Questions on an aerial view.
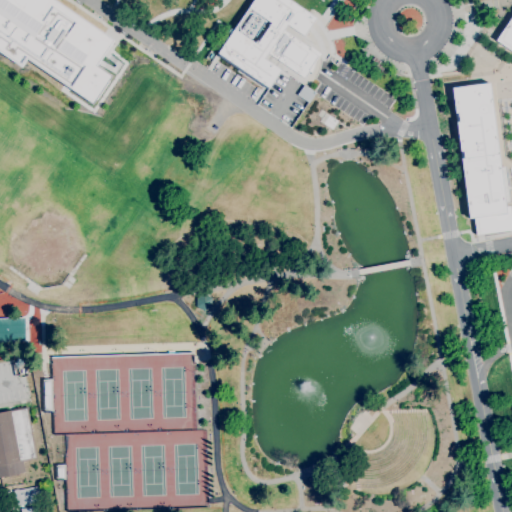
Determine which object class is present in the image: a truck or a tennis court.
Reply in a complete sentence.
Visible in the photo is a tennis court.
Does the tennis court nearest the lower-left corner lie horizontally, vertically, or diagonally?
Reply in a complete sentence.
The tennis court nearest the lower-left corner has been laid out vertically relative to the frame.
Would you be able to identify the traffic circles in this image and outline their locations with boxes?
[369,0,453,60]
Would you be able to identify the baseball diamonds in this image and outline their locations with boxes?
[10,215,86,294]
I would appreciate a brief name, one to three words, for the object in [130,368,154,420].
tennis court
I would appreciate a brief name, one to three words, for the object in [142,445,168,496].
tennis court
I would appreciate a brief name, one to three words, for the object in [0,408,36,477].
building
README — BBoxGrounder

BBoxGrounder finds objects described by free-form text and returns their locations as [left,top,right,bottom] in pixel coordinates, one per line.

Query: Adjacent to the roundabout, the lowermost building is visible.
[454,82,512,235]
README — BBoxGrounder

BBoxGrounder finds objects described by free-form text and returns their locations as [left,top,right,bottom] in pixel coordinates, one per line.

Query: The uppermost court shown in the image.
[0,318,26,342]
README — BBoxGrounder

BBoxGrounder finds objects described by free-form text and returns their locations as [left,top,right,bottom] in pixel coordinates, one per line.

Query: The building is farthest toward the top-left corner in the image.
[0,0,114,104]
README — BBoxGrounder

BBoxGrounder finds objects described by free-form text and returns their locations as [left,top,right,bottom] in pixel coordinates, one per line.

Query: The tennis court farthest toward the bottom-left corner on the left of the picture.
[75,447,102,498]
